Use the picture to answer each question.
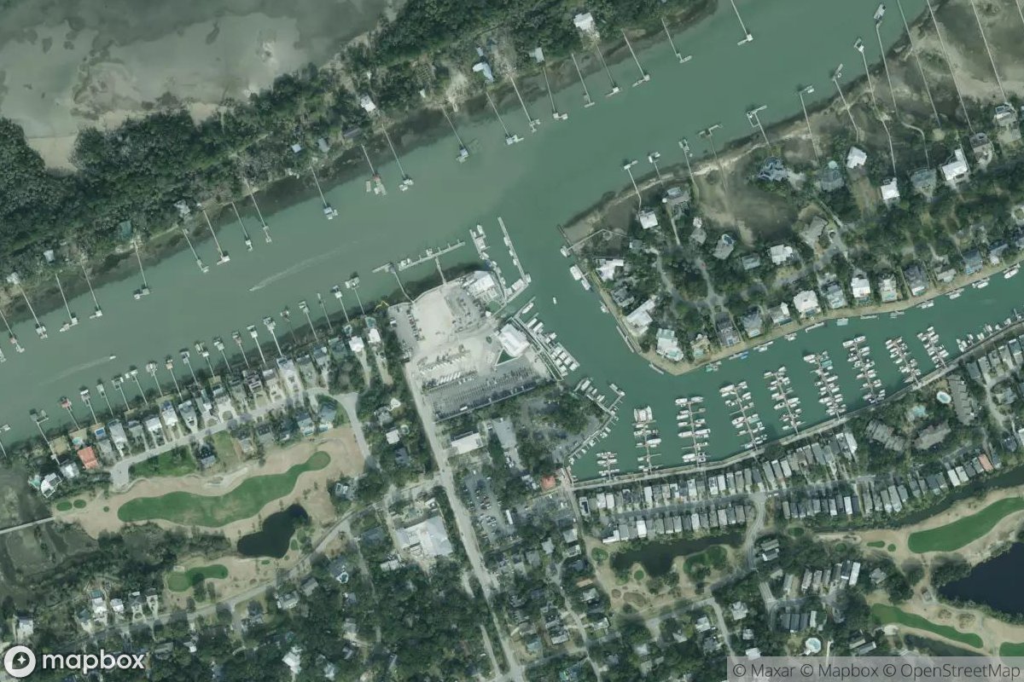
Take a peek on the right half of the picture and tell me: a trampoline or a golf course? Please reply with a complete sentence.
The one visible on the right half of the picture is a golf course.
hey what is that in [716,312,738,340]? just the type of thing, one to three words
house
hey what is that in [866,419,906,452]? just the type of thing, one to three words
building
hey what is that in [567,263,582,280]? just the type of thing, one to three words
boat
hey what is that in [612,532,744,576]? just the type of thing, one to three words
pond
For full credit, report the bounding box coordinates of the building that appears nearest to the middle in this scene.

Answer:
[498,324,530,357]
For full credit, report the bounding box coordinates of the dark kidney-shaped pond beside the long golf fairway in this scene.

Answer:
[238,504,309,557]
